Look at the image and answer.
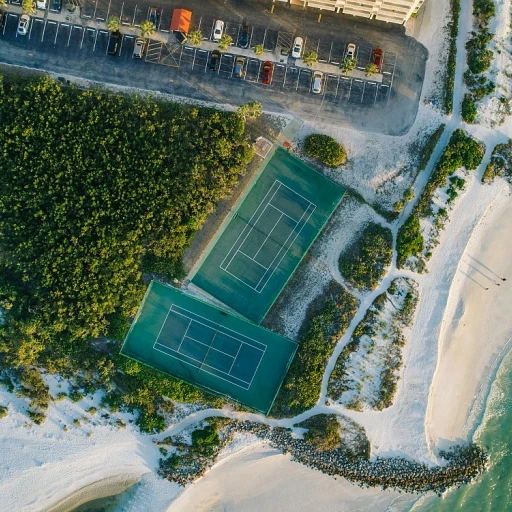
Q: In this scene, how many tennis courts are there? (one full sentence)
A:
I count 2 tennis courts.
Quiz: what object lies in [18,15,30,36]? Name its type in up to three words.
vehicle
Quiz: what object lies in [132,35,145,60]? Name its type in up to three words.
vehicle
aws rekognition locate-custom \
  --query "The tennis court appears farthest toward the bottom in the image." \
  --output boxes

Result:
[121,280,298,416]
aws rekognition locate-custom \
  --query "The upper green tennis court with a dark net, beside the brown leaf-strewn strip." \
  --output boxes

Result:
[192,150,344,324]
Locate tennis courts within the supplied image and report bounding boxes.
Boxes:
[192,150,344,324]
[121,280,298,416]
